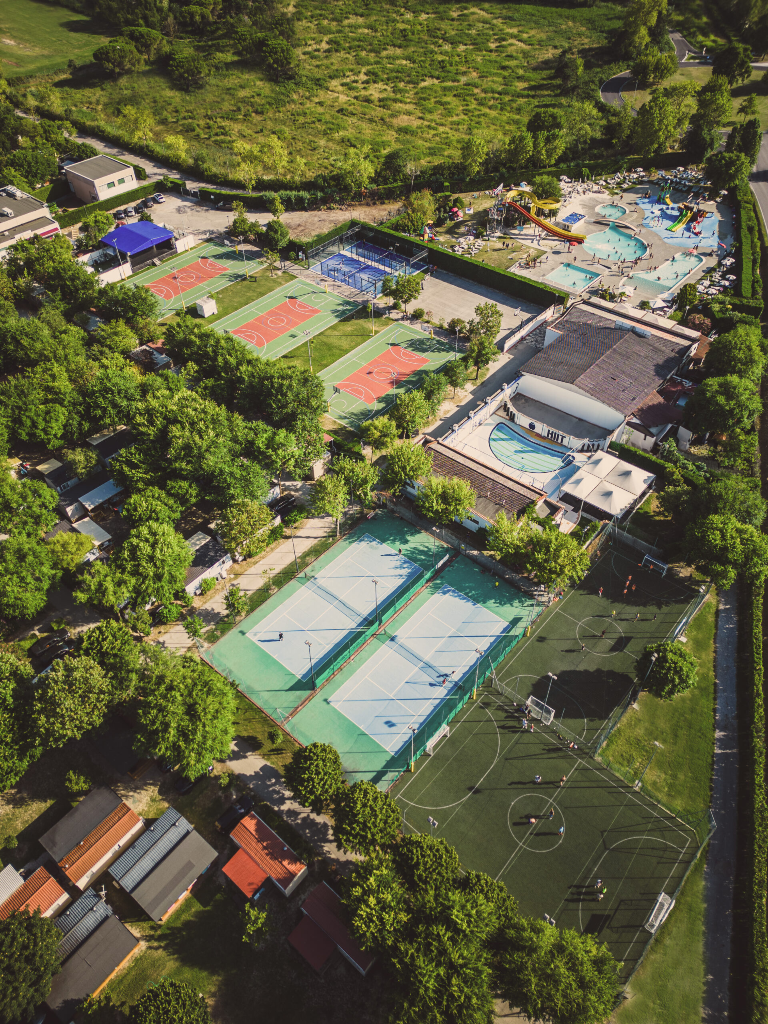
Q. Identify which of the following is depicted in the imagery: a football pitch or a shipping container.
football pitch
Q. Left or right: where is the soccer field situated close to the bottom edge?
right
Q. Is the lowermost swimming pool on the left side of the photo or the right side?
right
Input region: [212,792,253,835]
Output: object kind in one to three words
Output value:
car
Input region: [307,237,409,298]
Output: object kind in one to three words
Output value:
sports court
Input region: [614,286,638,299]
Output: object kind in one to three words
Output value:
umbrella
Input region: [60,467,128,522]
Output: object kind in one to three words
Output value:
building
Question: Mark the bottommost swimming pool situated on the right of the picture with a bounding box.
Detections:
[488,421,576,474]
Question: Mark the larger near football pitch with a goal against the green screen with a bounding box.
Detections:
[388,678,699,1004]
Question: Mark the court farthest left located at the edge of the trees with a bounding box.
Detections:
[117,241,268,320]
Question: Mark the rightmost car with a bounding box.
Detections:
[404,424,426,439]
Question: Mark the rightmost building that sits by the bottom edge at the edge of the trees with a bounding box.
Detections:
[288,882,384,977]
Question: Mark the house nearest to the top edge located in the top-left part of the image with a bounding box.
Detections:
[63,154,139,200]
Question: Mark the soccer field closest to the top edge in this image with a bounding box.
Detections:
[489,529,703,752]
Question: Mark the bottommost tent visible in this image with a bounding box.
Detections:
[558,449,656,532]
